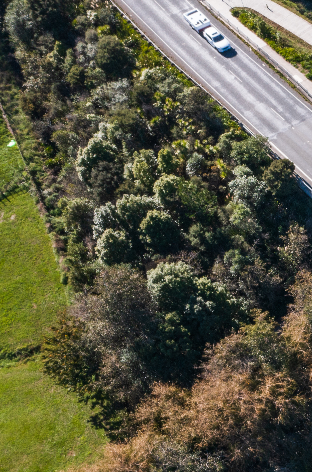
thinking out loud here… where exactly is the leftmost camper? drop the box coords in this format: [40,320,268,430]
[183,8,214,36]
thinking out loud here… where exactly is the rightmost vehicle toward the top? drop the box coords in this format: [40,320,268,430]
[205,30,233,55]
